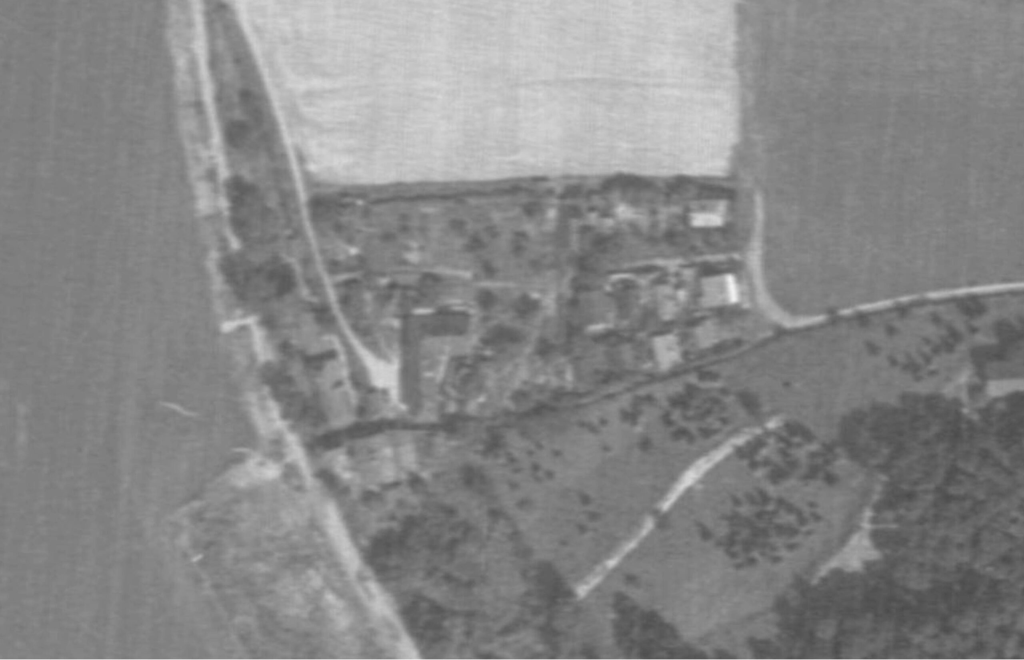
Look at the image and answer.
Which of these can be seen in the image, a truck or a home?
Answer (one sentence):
I can see a home in this picture.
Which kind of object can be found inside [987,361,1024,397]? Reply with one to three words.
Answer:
barn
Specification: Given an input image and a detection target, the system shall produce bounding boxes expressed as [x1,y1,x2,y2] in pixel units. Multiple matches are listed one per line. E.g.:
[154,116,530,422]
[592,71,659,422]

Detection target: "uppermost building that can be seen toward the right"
[690,200,726,226]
